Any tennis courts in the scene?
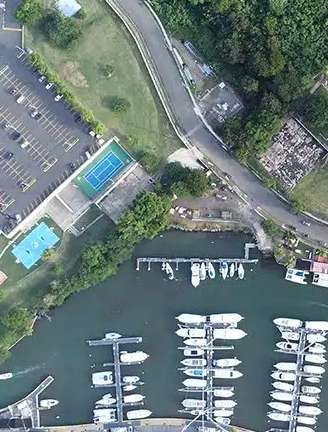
Yes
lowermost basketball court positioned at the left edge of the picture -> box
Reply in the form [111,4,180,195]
[12,223,60,269]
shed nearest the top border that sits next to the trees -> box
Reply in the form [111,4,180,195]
[56,0,82,19]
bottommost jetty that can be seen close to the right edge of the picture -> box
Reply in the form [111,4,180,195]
[265,326,328,432]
